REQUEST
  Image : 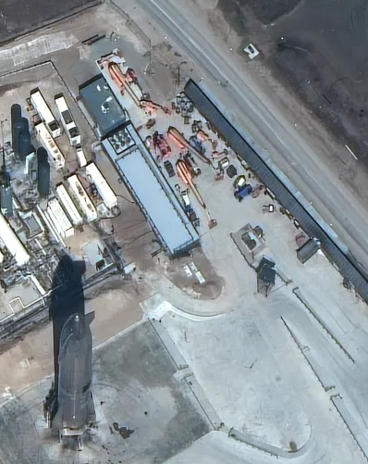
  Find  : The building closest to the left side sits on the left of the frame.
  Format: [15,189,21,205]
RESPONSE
[23,214,47,239]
